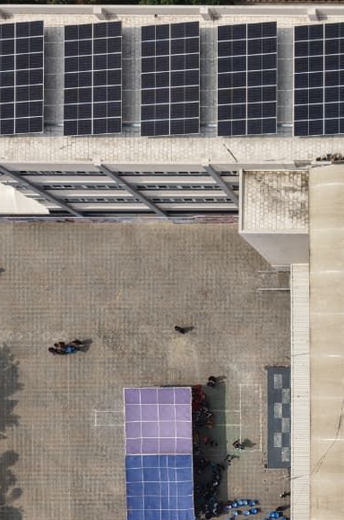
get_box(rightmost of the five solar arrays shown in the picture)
[295,22,344,142]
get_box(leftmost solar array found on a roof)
[0,21,52,142]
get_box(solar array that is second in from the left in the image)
[65,21,128,142]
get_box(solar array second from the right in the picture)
[217,21,278,142]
